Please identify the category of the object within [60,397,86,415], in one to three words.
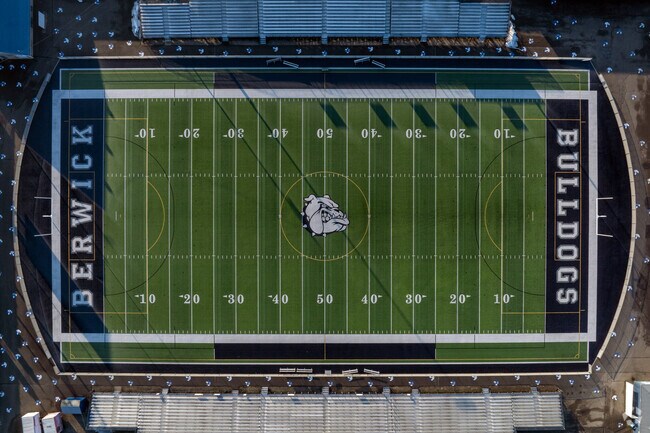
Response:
shed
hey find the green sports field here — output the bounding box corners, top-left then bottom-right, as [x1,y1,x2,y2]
[17,58,632,373]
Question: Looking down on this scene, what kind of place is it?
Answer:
sports ground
